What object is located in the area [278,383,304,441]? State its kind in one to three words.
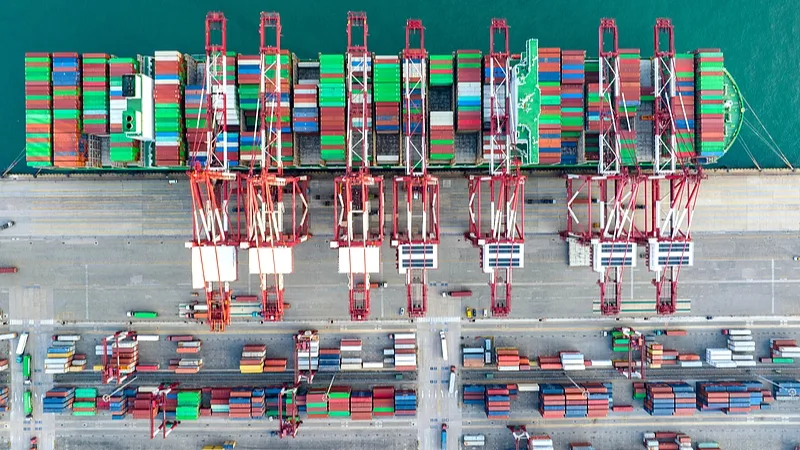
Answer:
container crane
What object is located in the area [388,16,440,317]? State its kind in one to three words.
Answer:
container crane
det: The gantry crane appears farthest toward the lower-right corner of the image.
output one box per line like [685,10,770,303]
[612,330,646,384]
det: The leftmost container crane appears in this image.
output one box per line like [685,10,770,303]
[102,332,138,386]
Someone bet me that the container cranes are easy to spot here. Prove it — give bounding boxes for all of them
[459,15,526,317]
[551,14,644,317]
[185,9,266,334]
[388,16,440,317]
[612,330,646,384]
[241,9,317,322]
[102,332,138,386]
[149,384,183,440]
[278,383,304,441]
[329,9,390,323]
[605,14,705,316]
[294,331,320,384]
